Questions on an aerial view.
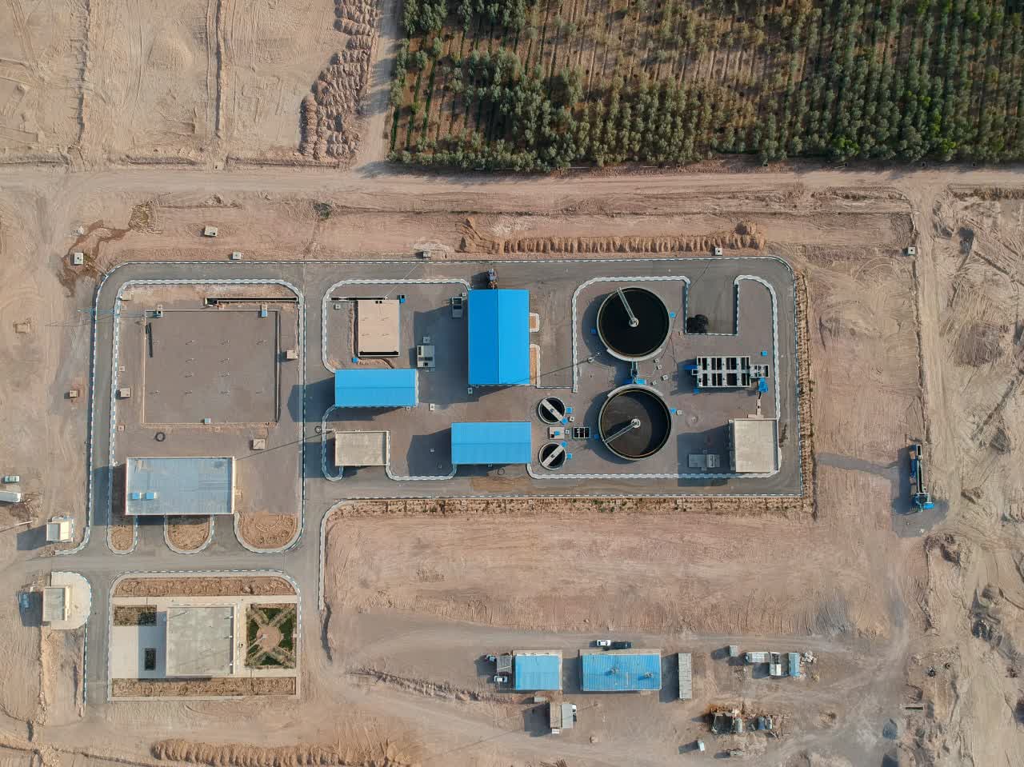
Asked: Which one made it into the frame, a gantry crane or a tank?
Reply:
tank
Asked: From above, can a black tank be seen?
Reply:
Yes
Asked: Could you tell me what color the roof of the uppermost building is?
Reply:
blue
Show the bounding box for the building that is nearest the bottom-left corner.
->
[42,584,75,621]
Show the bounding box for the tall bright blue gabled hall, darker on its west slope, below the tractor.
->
[468,288,529,386]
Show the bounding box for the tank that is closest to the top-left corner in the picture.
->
[358,300,400,359]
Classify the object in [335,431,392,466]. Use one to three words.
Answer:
building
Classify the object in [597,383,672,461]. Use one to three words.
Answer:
storage tank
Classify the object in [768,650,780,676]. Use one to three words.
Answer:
vehicle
